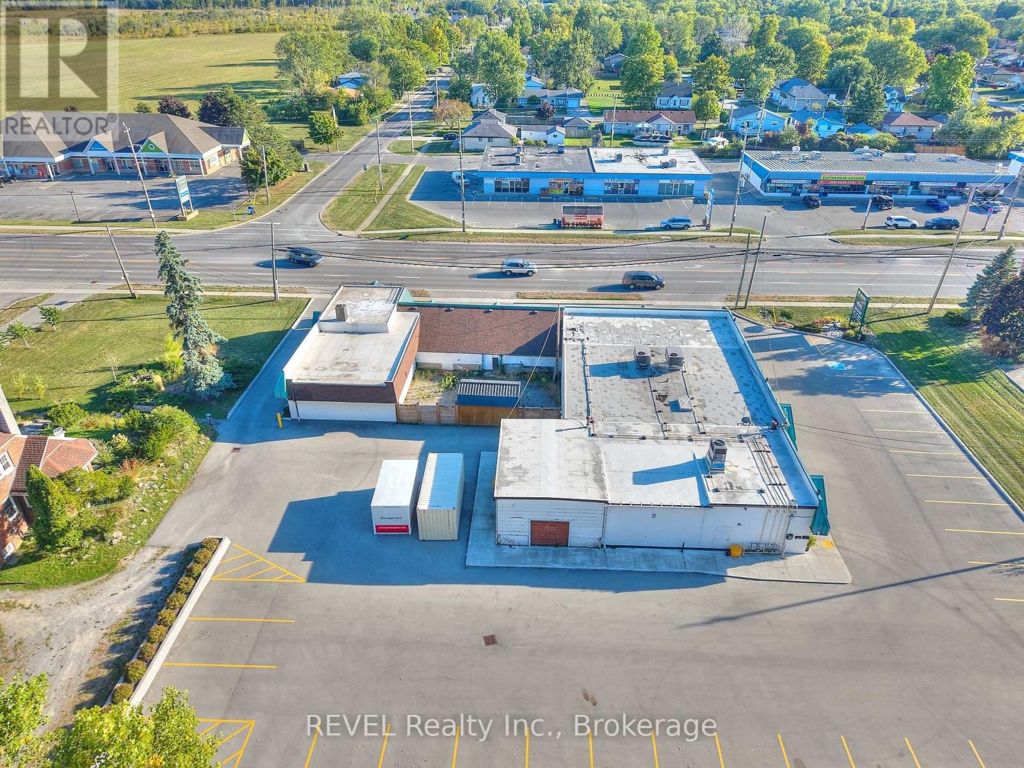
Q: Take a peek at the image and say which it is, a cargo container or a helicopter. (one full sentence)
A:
This aerial view contains a cargo container.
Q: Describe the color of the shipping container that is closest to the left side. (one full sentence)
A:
In this view, the shipping container that is closest to the left side is white.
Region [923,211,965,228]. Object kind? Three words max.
car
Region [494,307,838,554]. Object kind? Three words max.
building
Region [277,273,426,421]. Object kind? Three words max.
building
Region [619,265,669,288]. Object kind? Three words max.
car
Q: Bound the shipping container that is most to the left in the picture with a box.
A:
[370,459,424,535]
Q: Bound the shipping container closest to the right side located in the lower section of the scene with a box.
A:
[417,451,467,538]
